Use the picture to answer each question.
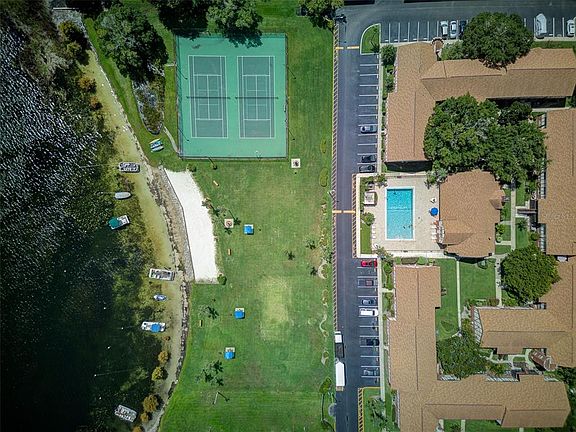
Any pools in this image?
Yes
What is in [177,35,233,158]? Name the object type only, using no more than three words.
tennis court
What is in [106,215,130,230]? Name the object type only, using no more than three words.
boat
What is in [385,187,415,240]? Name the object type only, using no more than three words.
swimming pool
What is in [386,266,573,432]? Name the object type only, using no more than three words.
building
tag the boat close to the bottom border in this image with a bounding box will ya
[114,404,137,422]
